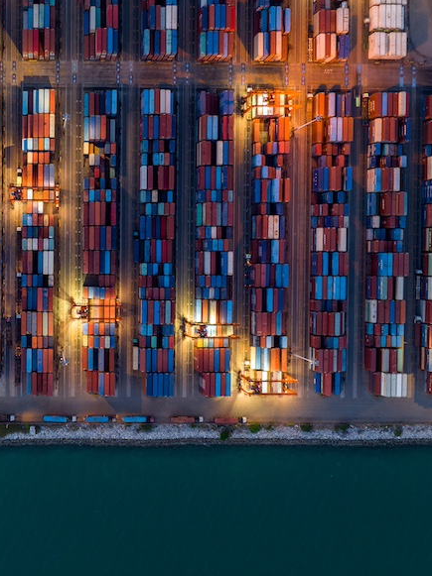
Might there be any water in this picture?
Yes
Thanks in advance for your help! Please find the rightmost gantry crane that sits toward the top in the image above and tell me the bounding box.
[242,88,304,119]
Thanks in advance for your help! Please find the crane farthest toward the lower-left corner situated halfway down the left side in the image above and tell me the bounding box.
[71,300,126,323]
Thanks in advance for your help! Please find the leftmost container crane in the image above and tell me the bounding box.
[9,184,63,209]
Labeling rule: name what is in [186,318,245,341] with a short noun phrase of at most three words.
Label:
container crane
